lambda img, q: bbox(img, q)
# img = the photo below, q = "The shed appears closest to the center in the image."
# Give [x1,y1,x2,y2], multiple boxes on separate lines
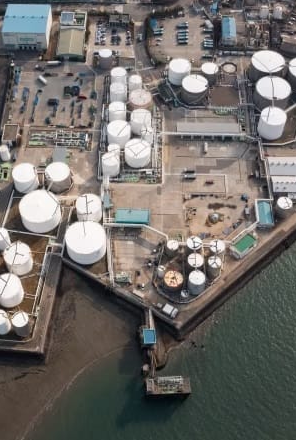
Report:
[116,208,150,225]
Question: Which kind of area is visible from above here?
industrial area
